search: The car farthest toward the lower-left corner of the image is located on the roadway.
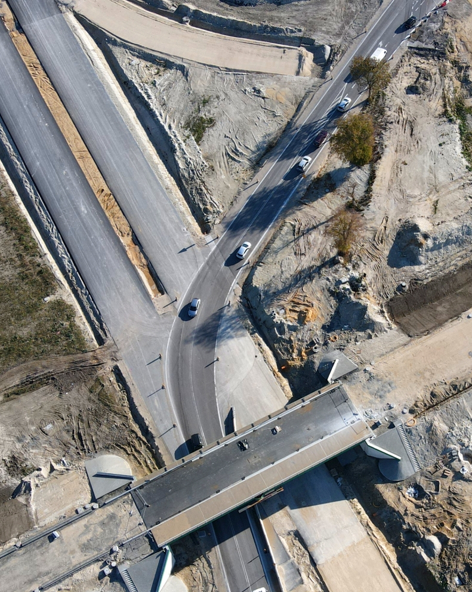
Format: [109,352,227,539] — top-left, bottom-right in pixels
[189,431,204,451]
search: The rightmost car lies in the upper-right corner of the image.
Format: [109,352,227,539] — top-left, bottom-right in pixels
[405,15,418,28]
